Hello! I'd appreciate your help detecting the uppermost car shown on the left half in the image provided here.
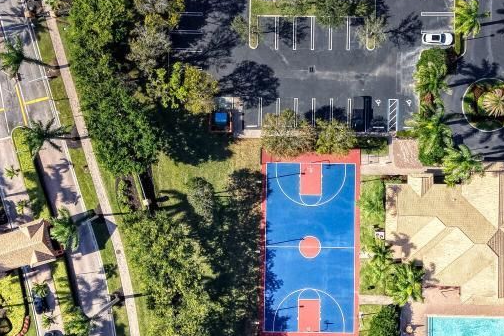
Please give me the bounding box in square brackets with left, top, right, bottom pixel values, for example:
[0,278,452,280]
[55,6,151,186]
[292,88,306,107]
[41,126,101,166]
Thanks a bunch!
[32,294,47,318]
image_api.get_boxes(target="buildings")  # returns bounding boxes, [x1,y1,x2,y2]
[386,162,504,304]
[0,219,61,275]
